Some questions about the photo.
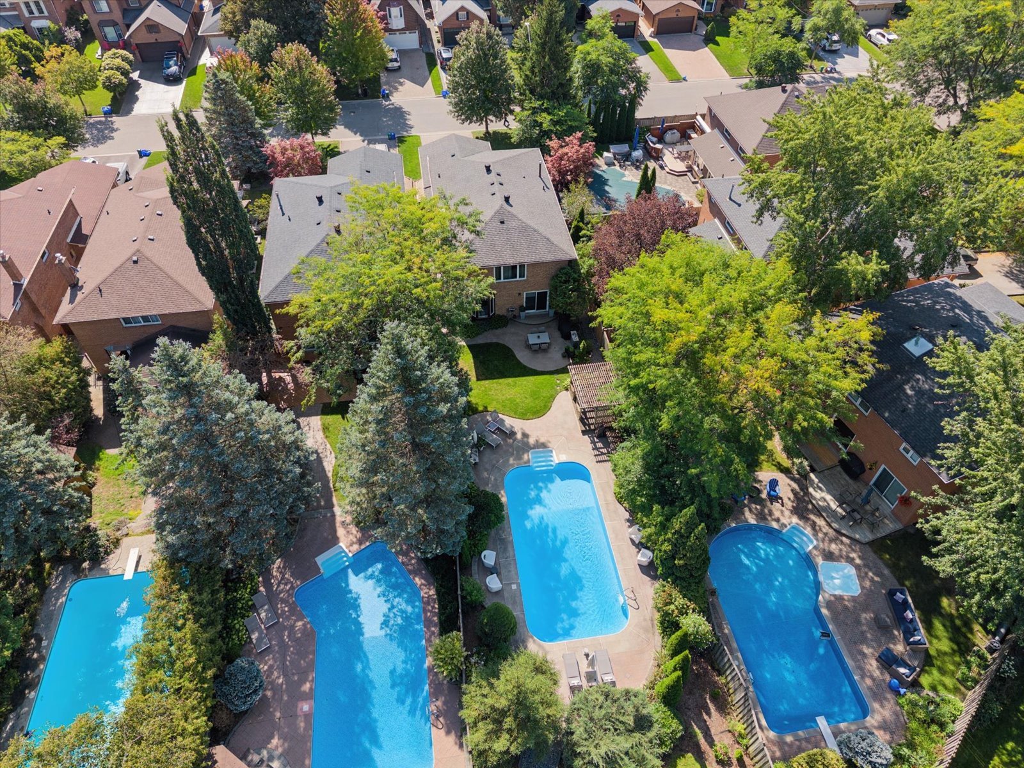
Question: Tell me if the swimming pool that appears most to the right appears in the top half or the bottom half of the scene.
bottom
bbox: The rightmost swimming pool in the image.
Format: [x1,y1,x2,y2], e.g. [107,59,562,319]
[709,517,879,745]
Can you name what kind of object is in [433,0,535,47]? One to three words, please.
house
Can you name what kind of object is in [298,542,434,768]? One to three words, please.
swimming pool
